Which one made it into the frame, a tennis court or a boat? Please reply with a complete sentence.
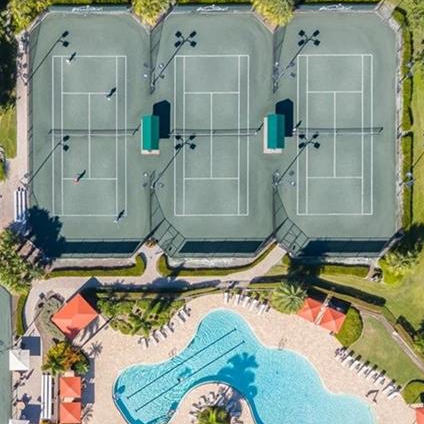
Looking from above, you can make out a tennis court.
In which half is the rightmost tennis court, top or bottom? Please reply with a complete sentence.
It is in the top half that the rightmost tennis court appears.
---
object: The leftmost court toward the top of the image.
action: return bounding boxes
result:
[28,12,151,258]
